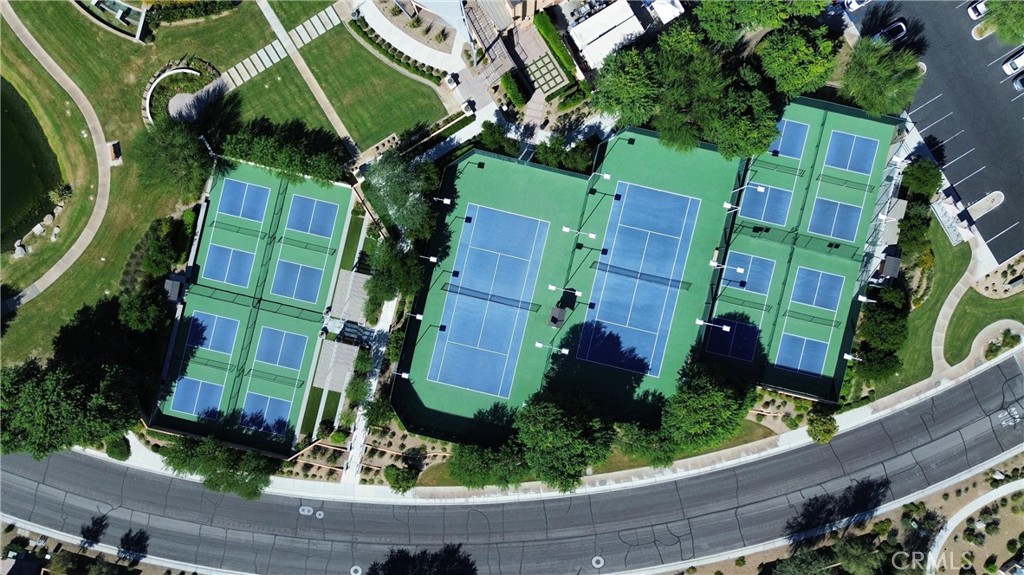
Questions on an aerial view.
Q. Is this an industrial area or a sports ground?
sports ground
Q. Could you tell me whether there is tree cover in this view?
Yes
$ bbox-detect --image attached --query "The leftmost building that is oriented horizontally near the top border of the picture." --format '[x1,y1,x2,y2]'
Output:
[481,0,579,42]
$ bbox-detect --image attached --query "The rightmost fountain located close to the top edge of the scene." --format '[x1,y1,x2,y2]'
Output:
[68,0,147,46]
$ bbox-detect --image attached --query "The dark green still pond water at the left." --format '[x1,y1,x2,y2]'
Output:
[0,75,61,250]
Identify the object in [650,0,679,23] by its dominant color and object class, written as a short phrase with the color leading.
white umbrella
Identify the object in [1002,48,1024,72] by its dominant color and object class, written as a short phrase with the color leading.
white car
